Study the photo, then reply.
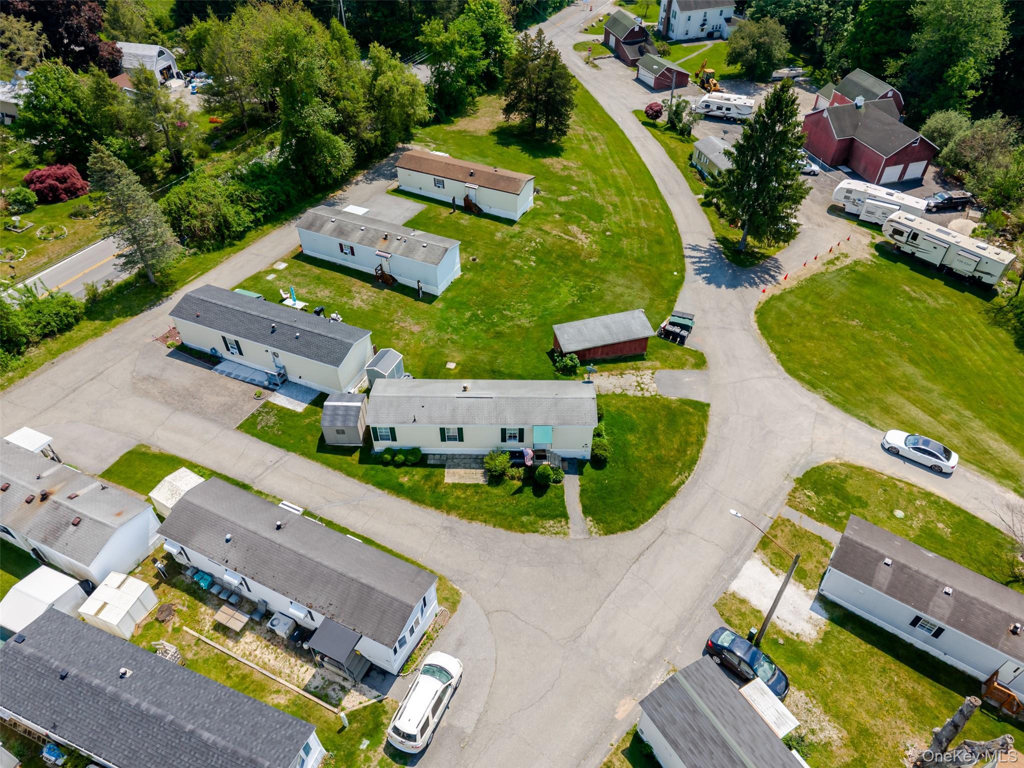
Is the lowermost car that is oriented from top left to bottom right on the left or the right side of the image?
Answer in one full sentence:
It is on the right.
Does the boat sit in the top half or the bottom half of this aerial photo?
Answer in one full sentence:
You can find the boat in the top half.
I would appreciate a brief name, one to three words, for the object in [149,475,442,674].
house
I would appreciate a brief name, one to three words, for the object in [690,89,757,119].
trailer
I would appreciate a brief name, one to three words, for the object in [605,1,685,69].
barn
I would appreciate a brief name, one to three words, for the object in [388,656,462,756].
car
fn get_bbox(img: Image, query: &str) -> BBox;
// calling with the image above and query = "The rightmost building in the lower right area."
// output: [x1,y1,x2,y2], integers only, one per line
[813,514,1024,698]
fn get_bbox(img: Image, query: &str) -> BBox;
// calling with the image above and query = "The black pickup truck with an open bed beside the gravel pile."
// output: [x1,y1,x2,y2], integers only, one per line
[931,190,975,214]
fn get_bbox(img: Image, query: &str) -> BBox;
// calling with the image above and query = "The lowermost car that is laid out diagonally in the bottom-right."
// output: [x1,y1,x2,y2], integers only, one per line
[709,630,796,708]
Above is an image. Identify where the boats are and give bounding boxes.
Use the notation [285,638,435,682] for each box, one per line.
[771,60,812,80]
